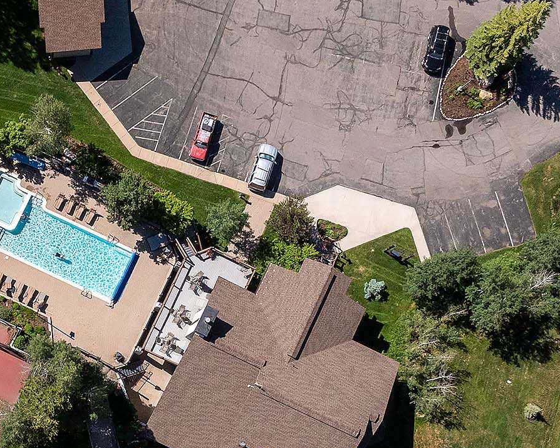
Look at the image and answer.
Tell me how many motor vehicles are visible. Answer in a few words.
3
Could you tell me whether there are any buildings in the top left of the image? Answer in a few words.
Yes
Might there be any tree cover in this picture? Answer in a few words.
Yes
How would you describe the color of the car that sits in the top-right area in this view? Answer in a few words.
black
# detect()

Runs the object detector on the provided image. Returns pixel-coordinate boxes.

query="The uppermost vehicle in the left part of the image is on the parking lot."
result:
[190,107,223,162]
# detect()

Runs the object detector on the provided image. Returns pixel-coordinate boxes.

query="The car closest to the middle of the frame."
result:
[251,141,281,192]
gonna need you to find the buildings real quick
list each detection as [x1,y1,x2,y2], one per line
[147,258,399,448]
[39,0,104,60]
